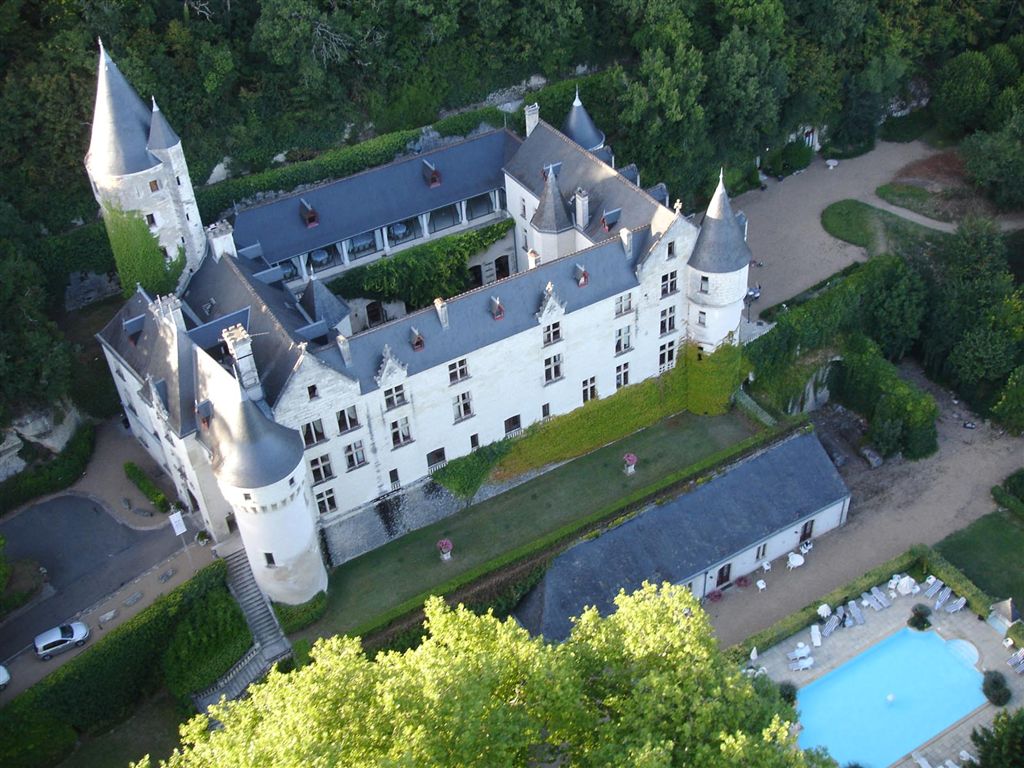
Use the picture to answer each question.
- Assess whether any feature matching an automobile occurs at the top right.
No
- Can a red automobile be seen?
No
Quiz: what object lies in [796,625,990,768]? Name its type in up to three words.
swimming pool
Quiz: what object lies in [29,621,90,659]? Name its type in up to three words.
car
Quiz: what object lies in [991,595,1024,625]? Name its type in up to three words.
shed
